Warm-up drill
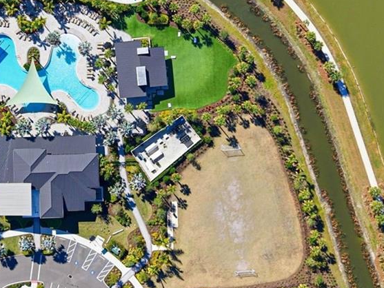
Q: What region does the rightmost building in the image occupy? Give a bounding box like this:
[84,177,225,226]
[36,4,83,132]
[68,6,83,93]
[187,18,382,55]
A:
[114,40,168,98]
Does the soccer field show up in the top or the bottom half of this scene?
bottom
